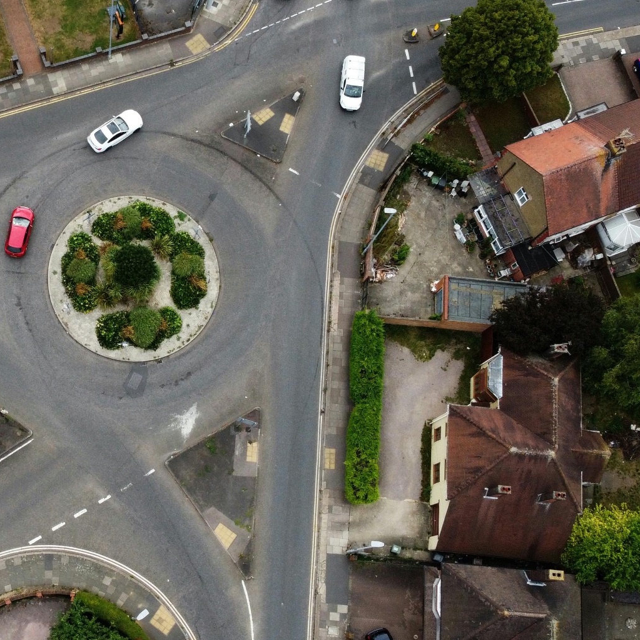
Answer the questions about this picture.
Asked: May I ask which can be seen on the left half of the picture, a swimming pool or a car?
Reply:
car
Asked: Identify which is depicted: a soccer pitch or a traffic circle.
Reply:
traffic circle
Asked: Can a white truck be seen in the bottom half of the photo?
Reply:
No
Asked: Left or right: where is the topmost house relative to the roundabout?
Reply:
on its right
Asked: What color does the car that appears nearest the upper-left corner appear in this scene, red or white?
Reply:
white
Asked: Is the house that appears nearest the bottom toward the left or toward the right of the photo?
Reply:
right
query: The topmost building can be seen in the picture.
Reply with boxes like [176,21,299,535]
[458,98,640,282]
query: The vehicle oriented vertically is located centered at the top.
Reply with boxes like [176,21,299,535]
[340,46,369,109]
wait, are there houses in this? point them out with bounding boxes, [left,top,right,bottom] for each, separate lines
[458,98,640,282]
[428,340,608,564]
[415,563,588,640]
